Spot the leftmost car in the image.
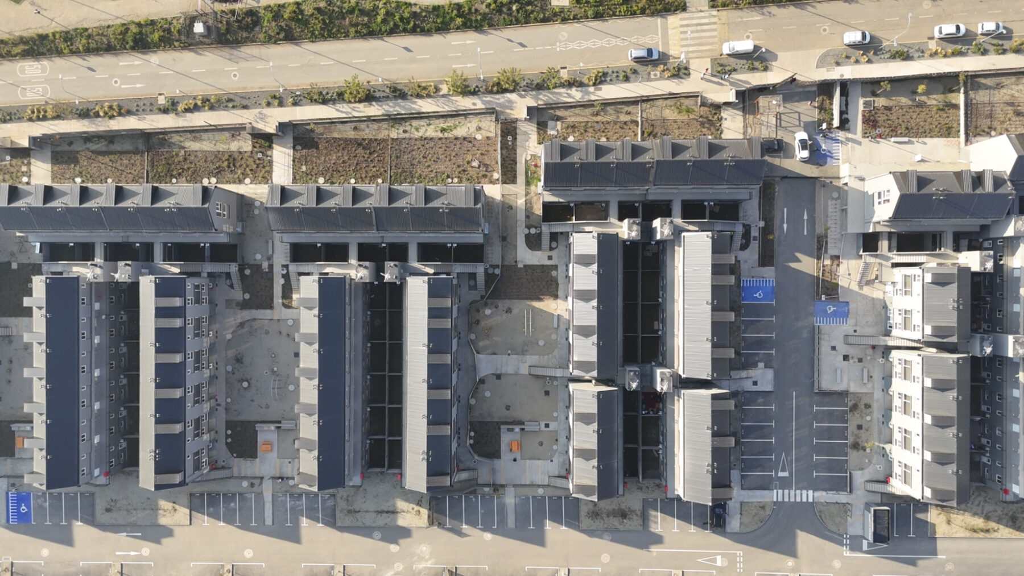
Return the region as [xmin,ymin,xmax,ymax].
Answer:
[628,47,658,62]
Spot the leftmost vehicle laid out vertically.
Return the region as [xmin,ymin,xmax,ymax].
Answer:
[712,502,727,533]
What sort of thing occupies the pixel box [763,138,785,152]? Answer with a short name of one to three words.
car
